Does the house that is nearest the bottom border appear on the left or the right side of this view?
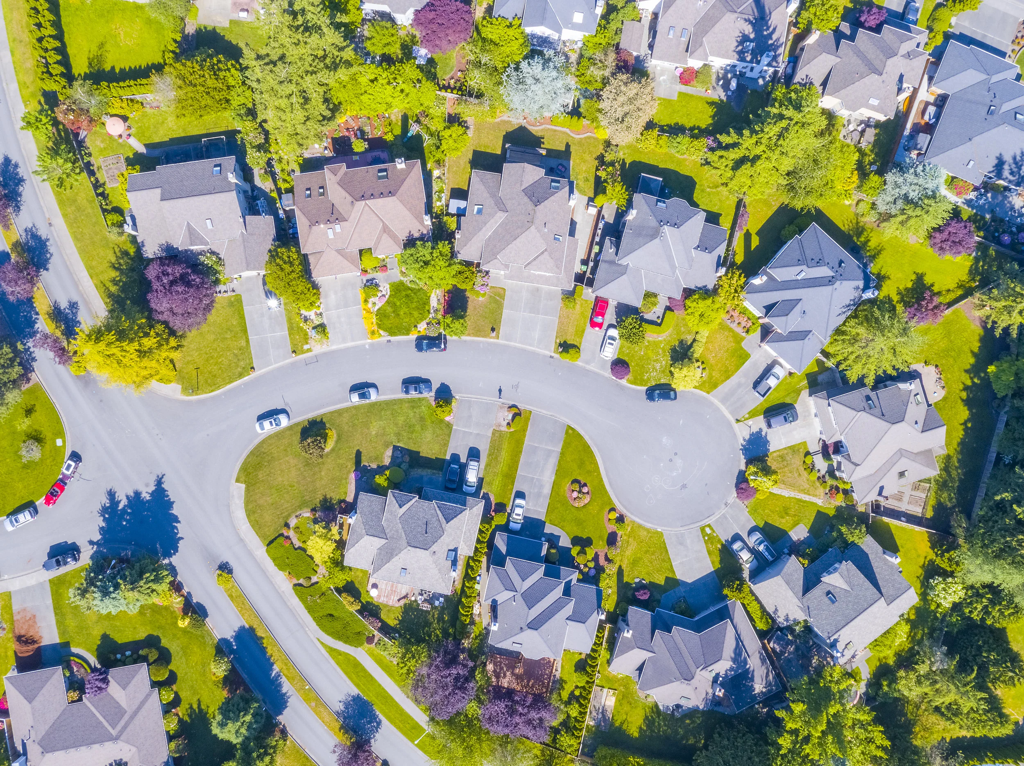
left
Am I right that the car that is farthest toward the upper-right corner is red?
No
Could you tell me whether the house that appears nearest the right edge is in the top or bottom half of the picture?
top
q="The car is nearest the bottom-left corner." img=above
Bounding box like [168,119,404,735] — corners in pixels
[41,549,81,573]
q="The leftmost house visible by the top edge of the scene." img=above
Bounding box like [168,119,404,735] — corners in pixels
[359,0,427,28]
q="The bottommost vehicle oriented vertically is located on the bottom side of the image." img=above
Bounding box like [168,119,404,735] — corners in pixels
[509,498,527,531]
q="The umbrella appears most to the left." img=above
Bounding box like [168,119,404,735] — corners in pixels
[106,117,126,136]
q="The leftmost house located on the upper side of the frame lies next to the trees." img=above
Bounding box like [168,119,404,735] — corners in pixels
[122,156,280,277]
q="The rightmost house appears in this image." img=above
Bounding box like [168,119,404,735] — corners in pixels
[924,39,1024,181]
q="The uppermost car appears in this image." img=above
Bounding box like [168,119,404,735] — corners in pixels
[902,0,922,26]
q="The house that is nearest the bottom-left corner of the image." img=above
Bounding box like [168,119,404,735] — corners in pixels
[3,661,180,766]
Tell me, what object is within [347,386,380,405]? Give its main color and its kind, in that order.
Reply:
white car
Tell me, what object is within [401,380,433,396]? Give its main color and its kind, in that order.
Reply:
blue car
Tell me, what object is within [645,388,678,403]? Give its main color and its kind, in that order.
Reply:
blue car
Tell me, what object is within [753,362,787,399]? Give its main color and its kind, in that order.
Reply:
white truck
